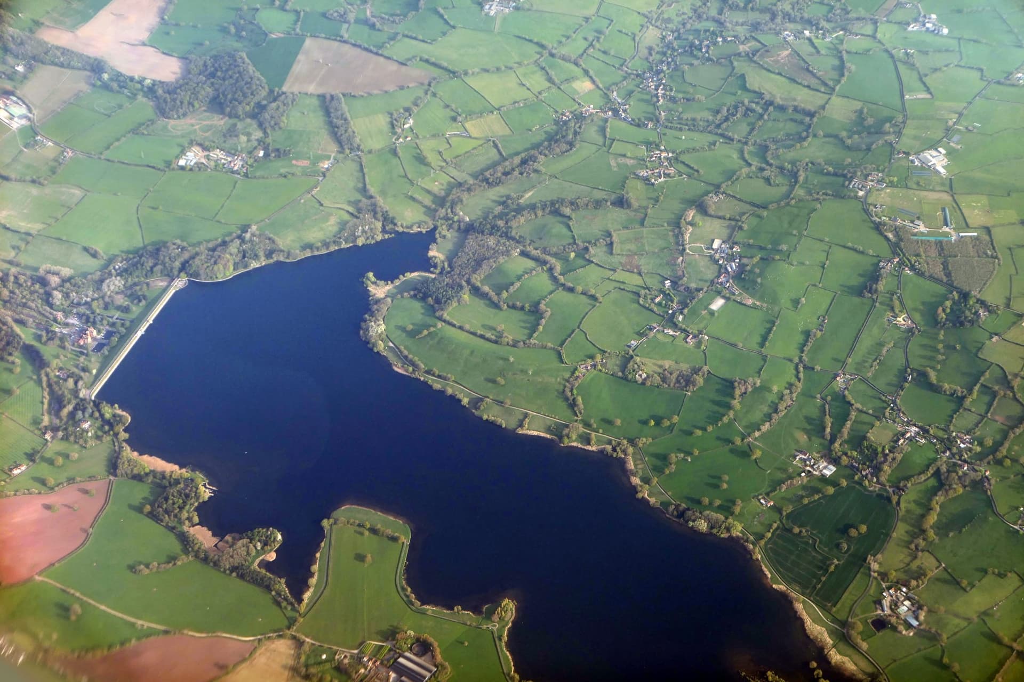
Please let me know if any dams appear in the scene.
Yes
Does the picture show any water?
Yes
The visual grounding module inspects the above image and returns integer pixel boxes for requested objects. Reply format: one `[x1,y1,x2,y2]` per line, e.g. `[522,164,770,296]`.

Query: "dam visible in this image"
[82,287,177,398]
